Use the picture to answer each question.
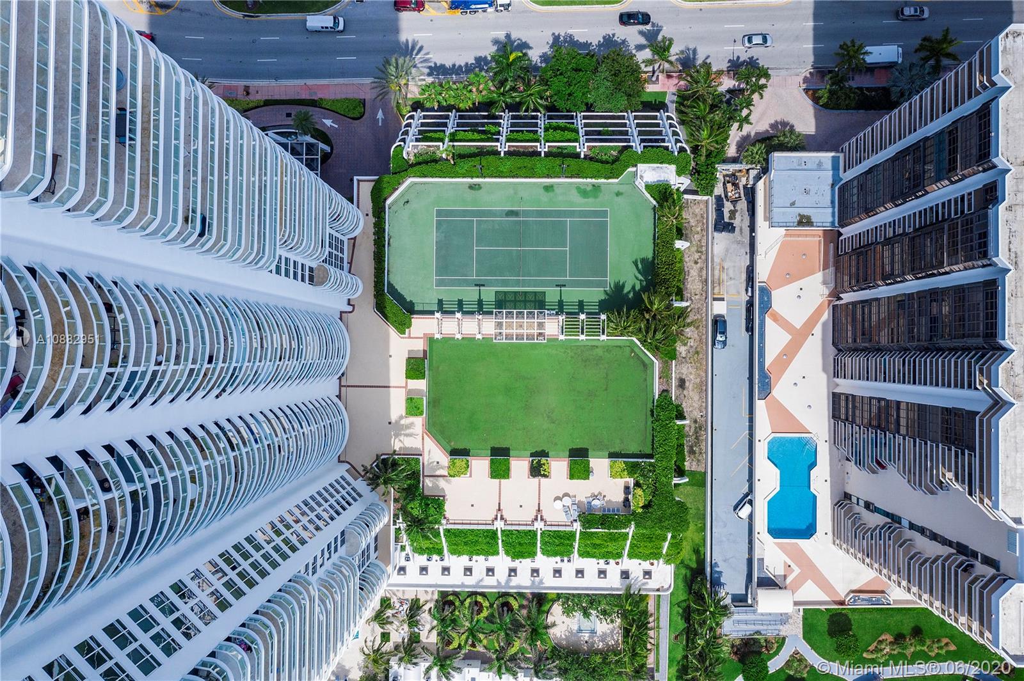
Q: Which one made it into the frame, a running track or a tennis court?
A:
tennis court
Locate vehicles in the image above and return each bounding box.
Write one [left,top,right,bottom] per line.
[741,33,772,49]
[746,578,754,606]
[896,5,928,22]
[863,44,905,67]
[619,11,650,27]
[305,16,343,33]
[130,26,158,46]
[730,492,754,518]
[744,302,754,335]
[395,0,425,12]
[712,316,728,348]
[744,266,754,296]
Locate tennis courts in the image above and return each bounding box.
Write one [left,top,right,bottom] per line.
[390,173,654,313]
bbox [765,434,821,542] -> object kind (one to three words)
swimming pool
